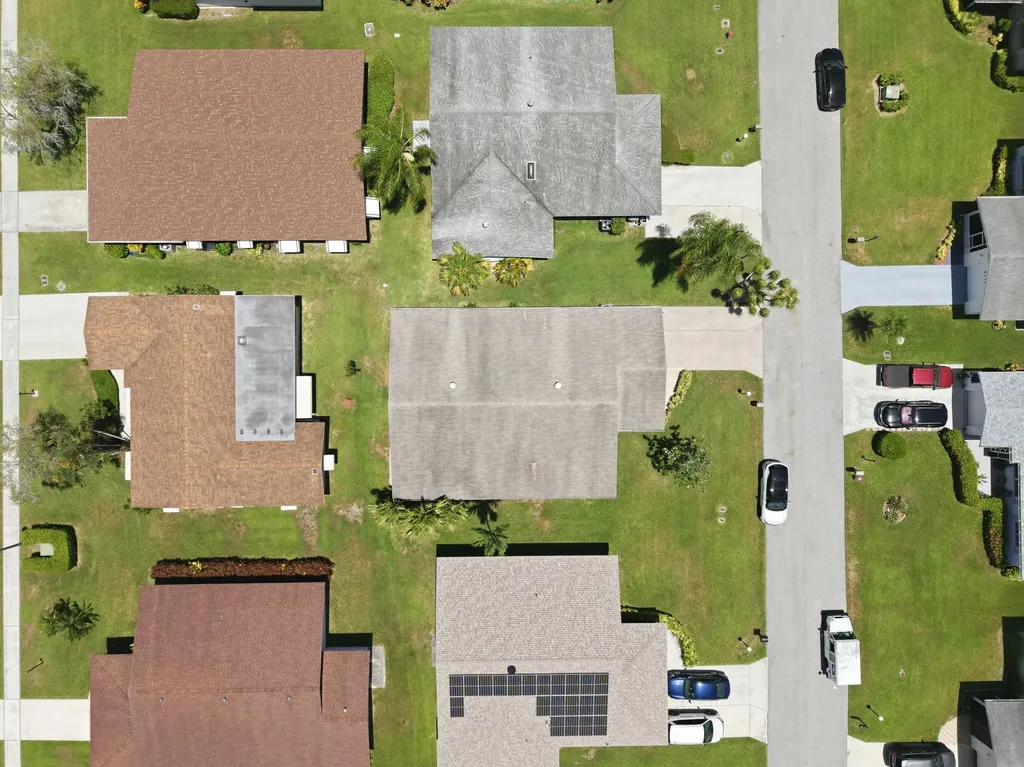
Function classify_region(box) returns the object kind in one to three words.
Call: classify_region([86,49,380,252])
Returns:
house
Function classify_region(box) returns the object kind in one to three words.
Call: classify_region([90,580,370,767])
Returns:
house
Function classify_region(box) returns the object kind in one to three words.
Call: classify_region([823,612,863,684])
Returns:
truck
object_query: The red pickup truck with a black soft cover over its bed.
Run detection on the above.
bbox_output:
[873,359,952,393]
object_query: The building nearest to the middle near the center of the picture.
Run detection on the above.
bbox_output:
[387,307,666,500]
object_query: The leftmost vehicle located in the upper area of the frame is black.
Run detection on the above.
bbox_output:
[814,48,849,114]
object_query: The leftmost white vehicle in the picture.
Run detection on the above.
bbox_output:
[667,712,724,747]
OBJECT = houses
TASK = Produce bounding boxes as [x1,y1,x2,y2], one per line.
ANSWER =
[90,580,370,767]
[961,0,1024,89]
[86,49,380,252]
[434,554,669,767]
[387,307,666,500]
[428,27,662,260]
[82,290,335,512]
[965,371,1024,579]
[964,142,1024,326]
[971,628,1024,767]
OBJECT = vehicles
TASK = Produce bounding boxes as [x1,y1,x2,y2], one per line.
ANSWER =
[757,461,791,525]
[871,399,947,431]
[823,612,863,684]
[880,741,956,767]
[667,712,724,747]
[814,48,849,114]
[873,359,952,393]
[667,669,730,702]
